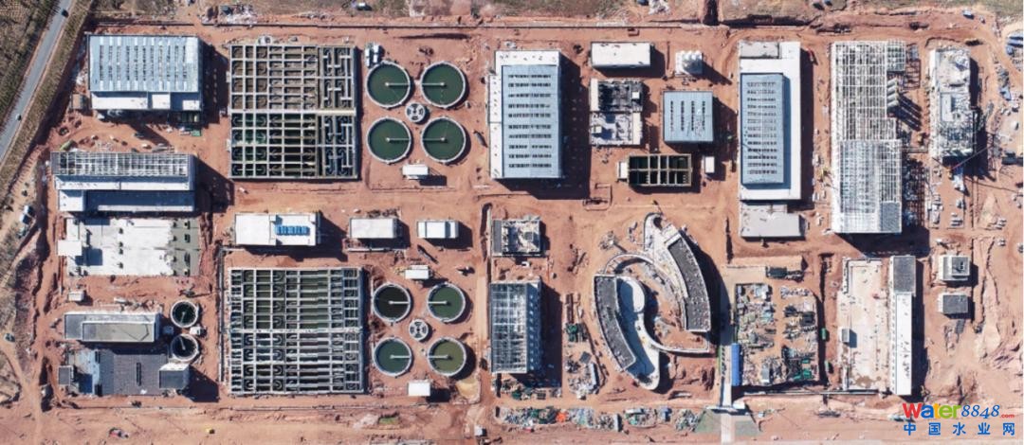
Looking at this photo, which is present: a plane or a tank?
tank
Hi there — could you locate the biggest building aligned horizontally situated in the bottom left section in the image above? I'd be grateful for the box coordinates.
[69,349,178,395]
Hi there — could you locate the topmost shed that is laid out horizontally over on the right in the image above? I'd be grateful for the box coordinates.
[591,43,651,69]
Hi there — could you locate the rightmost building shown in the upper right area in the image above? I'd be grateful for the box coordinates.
[922,50,977,154]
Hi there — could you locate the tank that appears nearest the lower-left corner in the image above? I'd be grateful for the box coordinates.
[170,332,202,362]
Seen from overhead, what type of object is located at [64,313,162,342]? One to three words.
building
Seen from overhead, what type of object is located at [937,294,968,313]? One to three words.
shed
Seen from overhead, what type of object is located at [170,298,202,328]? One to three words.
storage tank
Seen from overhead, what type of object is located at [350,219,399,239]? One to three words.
shed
